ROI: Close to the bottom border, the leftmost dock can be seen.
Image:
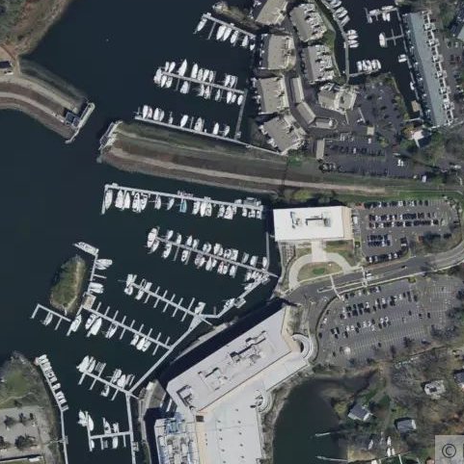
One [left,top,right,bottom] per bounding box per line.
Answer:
[40,366,68,464]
